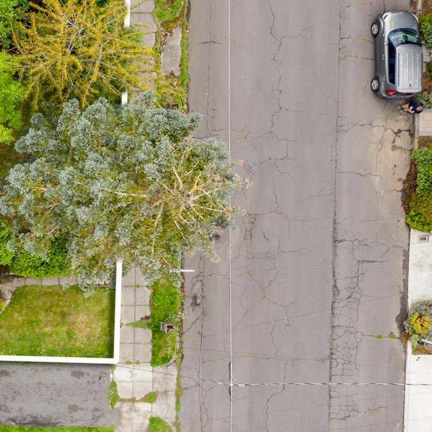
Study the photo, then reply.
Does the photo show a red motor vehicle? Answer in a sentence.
No, the frame has no red motor vehicle in it.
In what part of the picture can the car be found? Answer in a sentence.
The car sits in the top right section of the image.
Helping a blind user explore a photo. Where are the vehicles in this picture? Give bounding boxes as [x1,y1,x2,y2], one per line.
[369,12,426,101]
